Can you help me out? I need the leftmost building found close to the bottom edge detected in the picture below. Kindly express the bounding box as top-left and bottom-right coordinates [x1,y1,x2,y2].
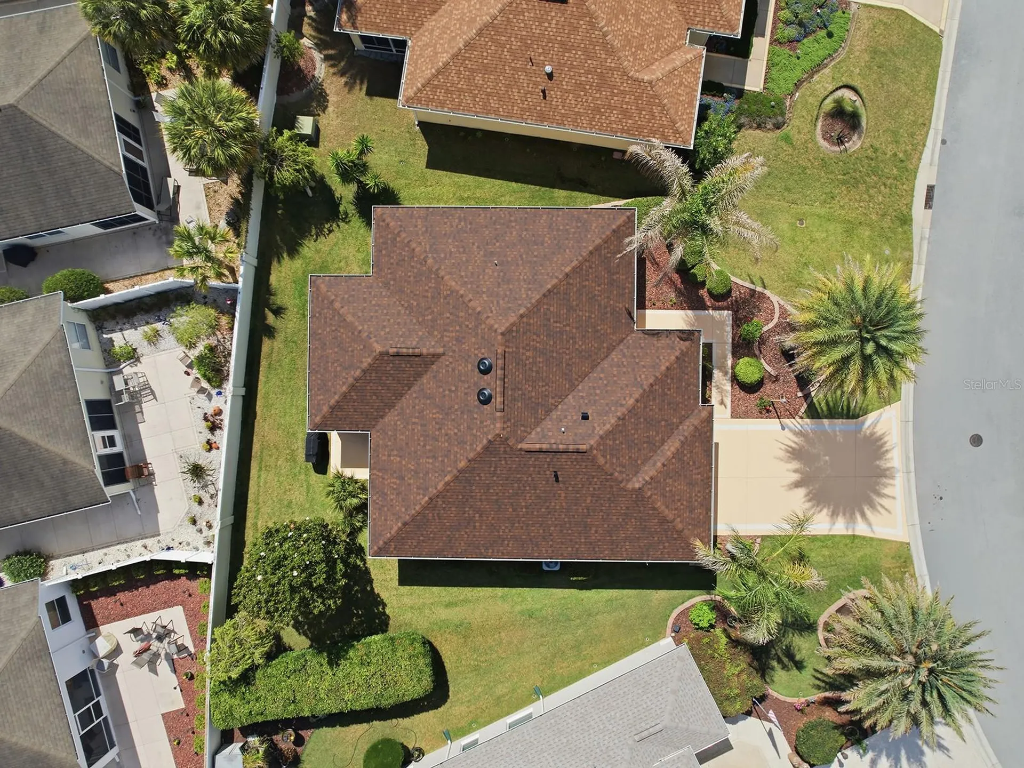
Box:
[0,571,119,768]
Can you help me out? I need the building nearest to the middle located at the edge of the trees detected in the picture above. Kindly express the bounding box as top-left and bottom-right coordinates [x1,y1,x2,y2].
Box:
[308,207,713,560]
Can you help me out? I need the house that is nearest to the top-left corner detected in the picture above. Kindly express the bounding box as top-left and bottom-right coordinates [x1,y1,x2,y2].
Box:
[0,7,158,249]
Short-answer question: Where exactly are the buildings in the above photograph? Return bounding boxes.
[0,571,119,768]
[308,207,713,560]
[0,293,139,528]
[0,7,158,249]
[335,0,746,157]
[403,638,731,768]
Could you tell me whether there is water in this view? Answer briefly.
No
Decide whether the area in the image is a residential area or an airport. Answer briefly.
residential area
